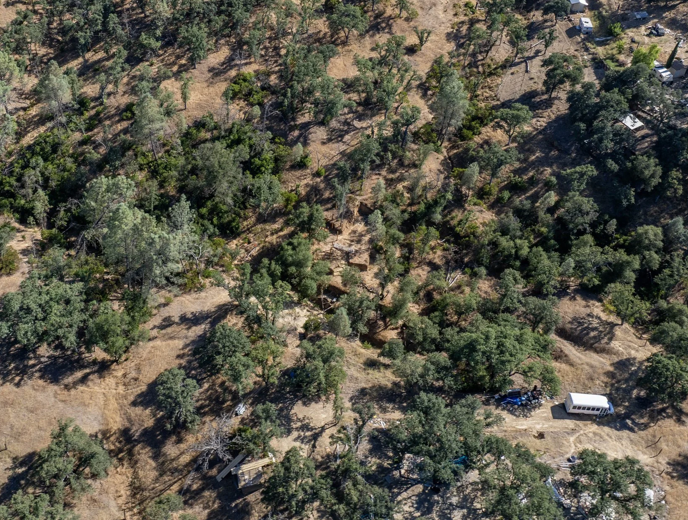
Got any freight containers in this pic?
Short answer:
No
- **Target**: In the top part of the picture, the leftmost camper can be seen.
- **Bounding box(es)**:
[576,14,589,33]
